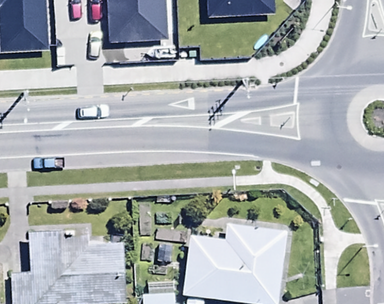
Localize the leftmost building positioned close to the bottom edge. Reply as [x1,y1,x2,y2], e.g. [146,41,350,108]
[11,231,126,304]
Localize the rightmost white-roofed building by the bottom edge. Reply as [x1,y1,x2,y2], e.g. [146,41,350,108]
[184,224,288,304]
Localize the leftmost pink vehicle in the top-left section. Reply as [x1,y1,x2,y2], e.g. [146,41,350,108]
[70,0,82,20]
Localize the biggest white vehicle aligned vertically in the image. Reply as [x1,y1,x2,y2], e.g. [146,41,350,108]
[89,31,102,59]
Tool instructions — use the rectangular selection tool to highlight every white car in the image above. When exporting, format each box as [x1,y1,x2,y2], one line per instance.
[89,31,102,59]
[76,104,110,118]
